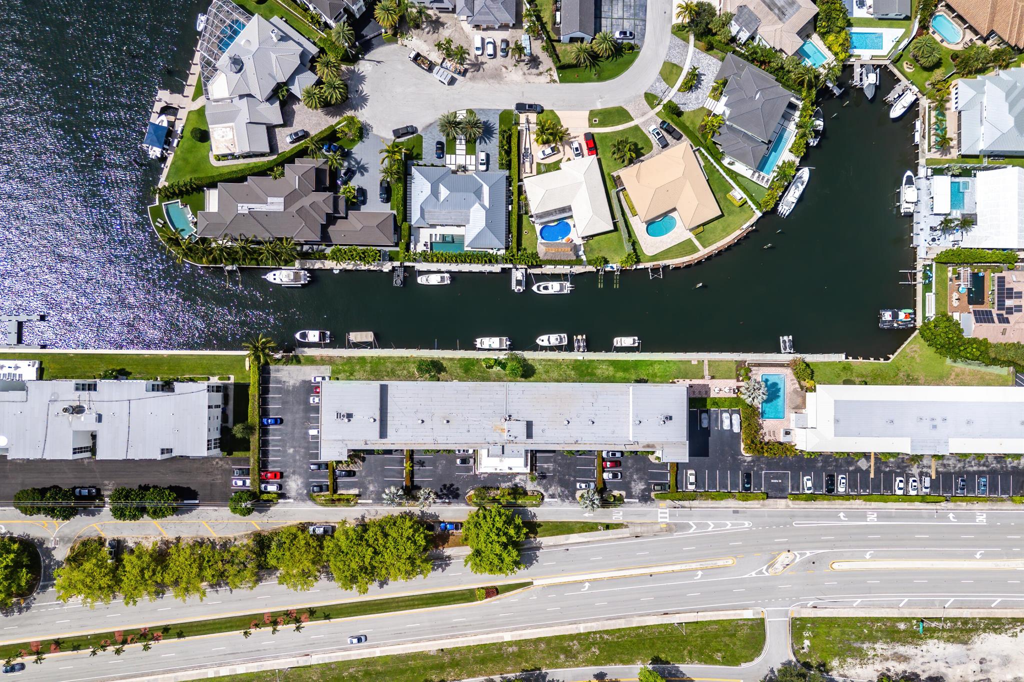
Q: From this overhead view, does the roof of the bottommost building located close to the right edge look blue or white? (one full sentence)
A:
The roof of the bottommost building located close to the right edge looks white in the image.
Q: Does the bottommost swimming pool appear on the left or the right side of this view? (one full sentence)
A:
You can find the bottommost swimming pool on the right side of the picture.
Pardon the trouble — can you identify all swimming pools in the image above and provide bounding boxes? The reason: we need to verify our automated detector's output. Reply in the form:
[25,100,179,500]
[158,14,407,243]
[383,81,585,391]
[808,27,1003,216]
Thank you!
[850,31,884,50]
[951,180,966,211]
[539,220,572,243]
[797,39,829,68]
[645,214,677,238]
[970,272,984,304]
[756,126,795,177]
[216,18,248,53]
[930,13,964,45]
[761,373,786,420]
[162,199,197,237]
[429,233,466,254]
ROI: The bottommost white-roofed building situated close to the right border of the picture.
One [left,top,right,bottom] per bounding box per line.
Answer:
[779,384,1024,455]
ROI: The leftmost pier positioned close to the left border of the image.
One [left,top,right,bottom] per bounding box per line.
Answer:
[0,314,41,348]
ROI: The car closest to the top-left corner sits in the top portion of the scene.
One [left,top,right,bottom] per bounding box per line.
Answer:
[286,129,306,142]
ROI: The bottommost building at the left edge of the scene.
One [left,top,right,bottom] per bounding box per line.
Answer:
[0,380,222,460]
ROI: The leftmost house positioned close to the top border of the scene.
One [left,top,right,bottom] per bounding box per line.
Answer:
[203,13,320,157]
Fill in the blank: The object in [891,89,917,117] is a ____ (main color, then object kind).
white boat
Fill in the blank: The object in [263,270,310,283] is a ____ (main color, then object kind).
white boat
